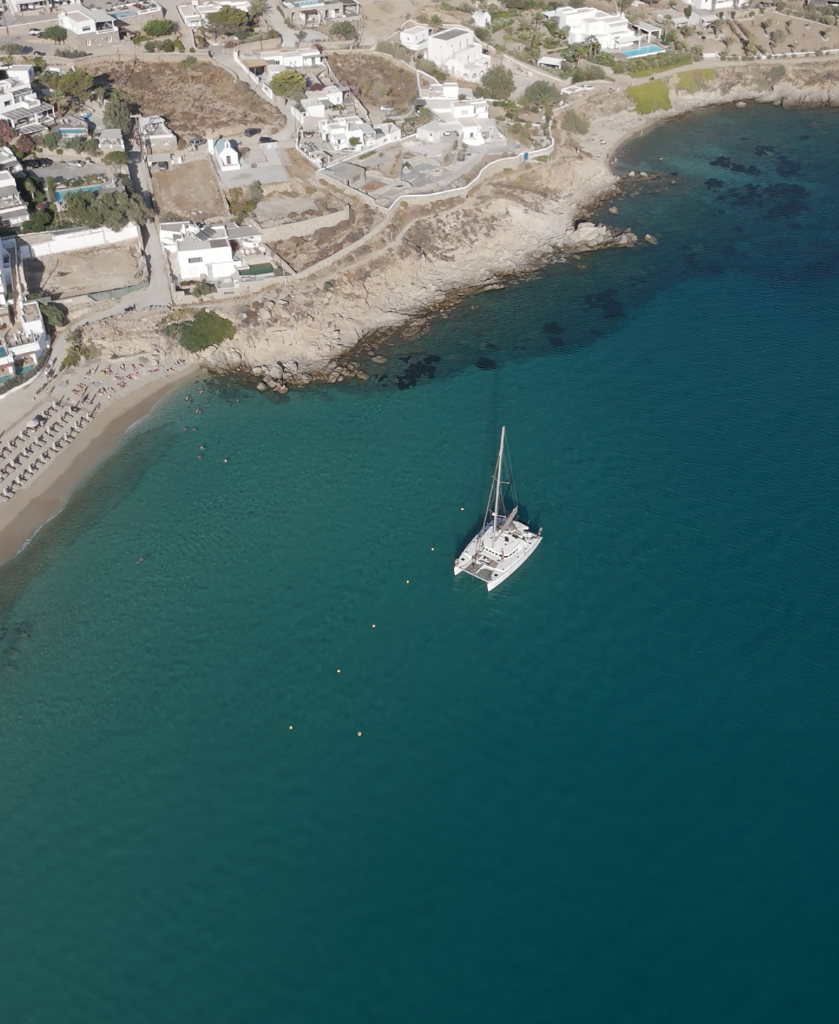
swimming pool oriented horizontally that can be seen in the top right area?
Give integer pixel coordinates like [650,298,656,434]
[620,45,667,57]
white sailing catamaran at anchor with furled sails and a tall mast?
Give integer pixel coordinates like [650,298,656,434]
[455,431,546,601]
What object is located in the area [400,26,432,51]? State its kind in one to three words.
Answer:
house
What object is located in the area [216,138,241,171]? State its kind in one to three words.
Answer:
building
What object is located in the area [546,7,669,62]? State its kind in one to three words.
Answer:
house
